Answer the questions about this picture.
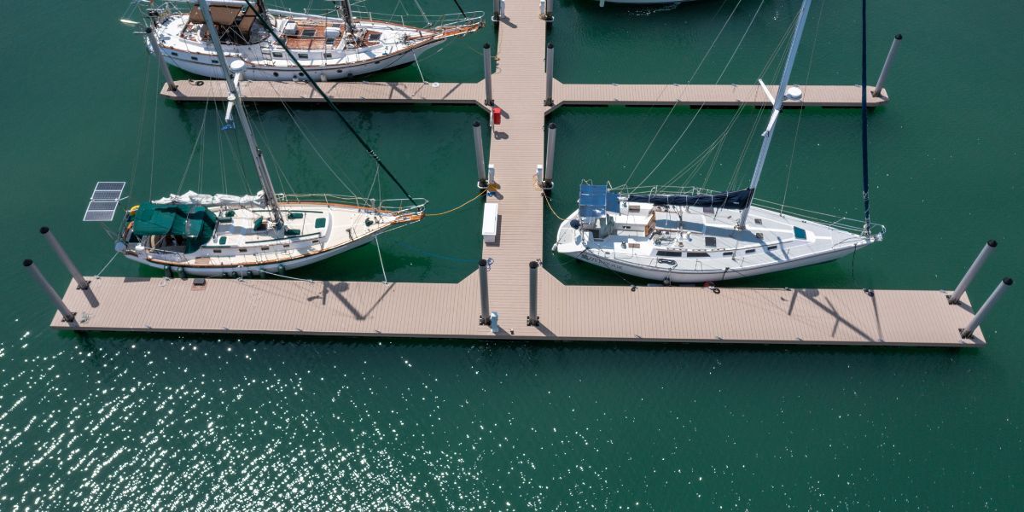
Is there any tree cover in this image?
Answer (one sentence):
No, the picture contains no tree cover.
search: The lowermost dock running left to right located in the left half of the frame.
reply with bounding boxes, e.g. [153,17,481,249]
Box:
[50,271,478,339]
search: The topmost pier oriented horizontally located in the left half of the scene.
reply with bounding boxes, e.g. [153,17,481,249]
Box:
[163,74,495,114]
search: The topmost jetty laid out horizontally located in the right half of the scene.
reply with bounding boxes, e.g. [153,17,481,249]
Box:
[542,75,886,116]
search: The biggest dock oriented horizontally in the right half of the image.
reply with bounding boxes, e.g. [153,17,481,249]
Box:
[542,268,986,349]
